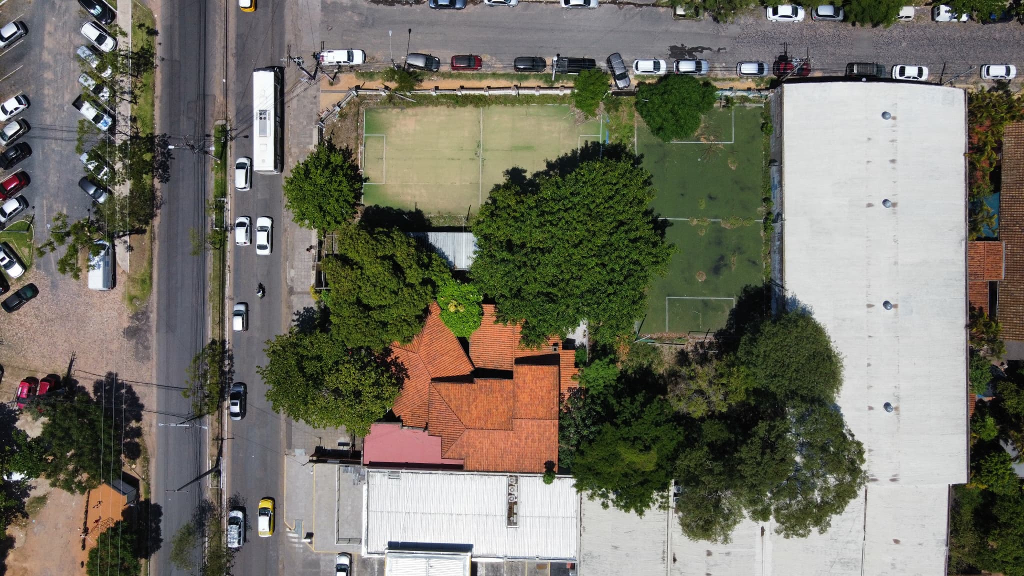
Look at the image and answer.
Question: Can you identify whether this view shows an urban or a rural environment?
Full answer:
From above, the setting appears urban.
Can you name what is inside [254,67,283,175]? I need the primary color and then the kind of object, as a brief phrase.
white bus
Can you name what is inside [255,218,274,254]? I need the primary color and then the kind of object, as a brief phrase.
white car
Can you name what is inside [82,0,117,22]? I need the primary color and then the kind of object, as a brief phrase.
black car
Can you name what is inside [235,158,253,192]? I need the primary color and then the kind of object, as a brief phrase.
white car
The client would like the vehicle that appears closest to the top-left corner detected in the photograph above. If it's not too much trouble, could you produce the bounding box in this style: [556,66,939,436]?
[0,22,28,50]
